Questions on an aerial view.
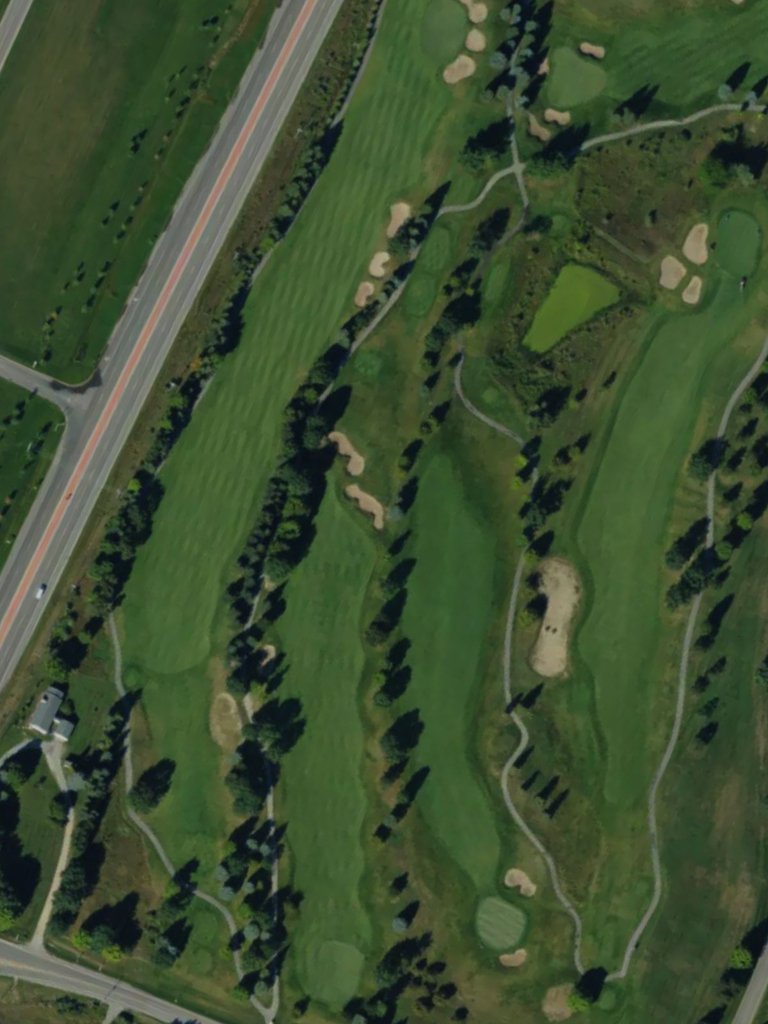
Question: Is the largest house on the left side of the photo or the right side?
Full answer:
The largest house sits on the left side.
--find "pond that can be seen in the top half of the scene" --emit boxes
[523,261,619,354]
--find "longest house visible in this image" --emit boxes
[31,687,66,734]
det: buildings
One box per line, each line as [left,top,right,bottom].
[31,687,66,734]
[55,717,74,739]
